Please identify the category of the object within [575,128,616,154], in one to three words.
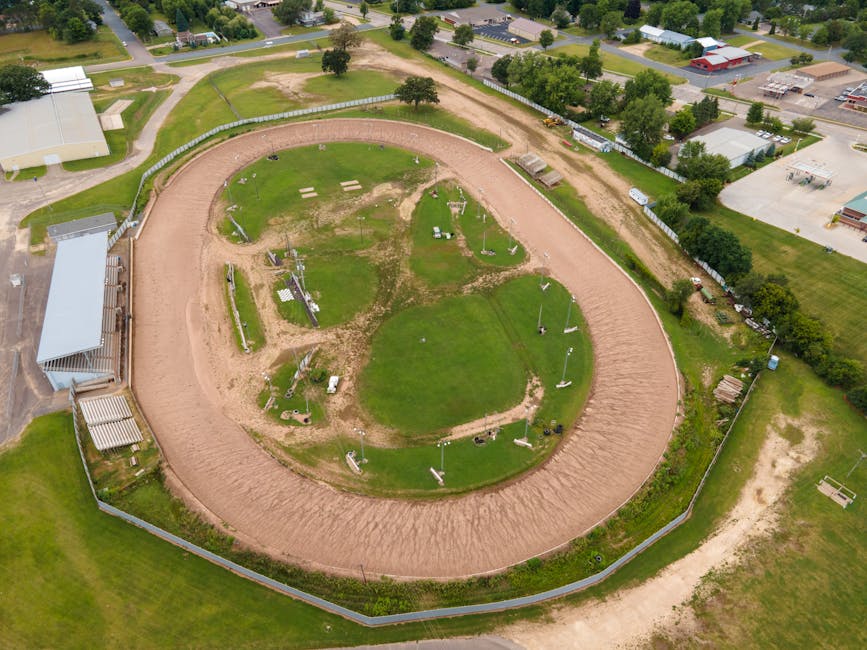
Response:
shed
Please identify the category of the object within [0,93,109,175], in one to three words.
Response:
building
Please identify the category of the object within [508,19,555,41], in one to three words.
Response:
building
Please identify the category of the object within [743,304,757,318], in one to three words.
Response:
car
